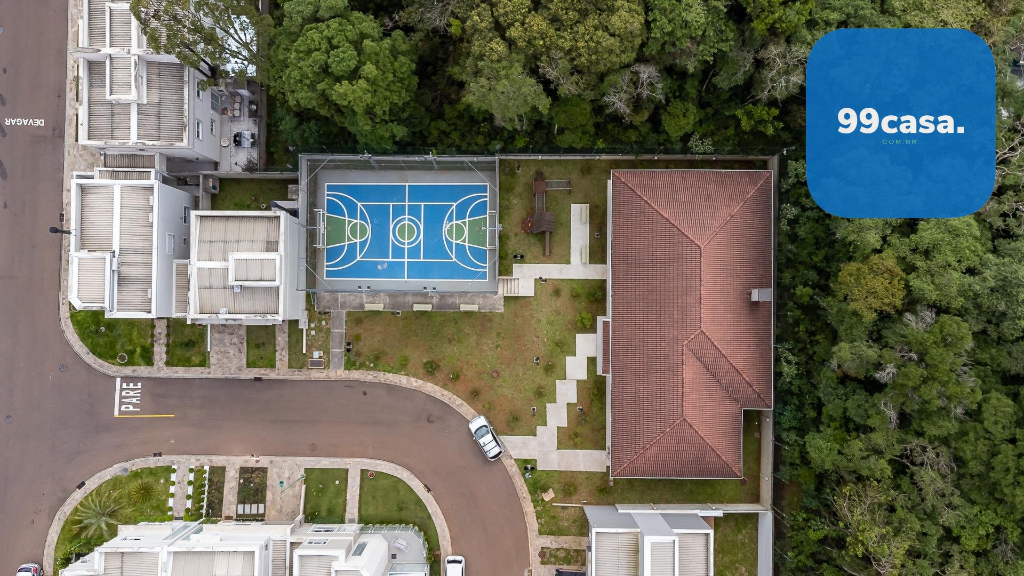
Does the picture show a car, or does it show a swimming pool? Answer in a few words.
car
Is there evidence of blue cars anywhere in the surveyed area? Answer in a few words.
No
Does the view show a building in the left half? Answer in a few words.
Yes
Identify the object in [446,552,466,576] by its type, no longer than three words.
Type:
car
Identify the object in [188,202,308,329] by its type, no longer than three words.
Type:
house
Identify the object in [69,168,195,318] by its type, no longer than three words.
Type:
house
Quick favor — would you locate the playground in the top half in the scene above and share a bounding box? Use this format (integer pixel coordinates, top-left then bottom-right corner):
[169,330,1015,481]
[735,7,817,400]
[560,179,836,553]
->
[521,171,571,255]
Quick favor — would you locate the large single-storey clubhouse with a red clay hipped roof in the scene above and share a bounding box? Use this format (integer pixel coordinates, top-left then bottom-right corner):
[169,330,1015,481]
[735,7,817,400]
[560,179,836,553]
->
[595,169,776,479]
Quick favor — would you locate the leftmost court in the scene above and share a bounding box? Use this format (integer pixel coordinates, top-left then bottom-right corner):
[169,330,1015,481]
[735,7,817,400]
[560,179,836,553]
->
[316,170,498,292]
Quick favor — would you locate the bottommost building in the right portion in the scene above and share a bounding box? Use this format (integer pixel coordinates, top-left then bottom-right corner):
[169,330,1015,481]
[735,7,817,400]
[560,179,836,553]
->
[580,504,714,576]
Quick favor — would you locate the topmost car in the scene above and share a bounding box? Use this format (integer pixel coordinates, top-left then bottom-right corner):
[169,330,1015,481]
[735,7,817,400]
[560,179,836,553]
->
[469,413,504,463]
